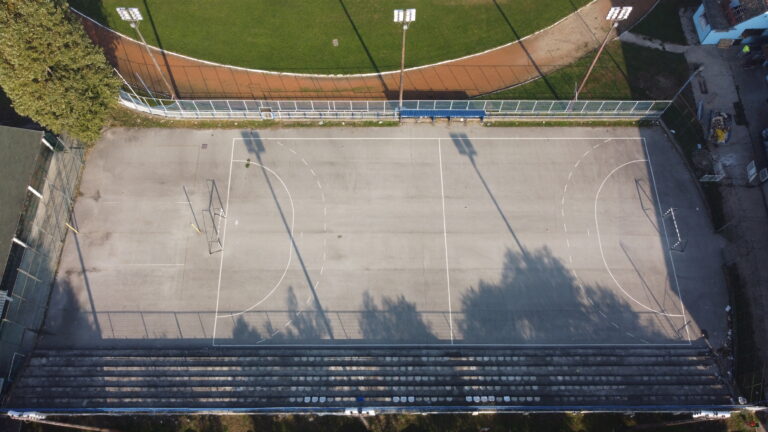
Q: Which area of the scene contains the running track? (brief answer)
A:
top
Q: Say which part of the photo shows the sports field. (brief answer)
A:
top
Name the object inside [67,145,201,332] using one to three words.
sports court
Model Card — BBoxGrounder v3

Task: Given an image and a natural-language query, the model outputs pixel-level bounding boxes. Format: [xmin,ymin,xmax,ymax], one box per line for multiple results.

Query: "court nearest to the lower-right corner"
[211,138,691,346]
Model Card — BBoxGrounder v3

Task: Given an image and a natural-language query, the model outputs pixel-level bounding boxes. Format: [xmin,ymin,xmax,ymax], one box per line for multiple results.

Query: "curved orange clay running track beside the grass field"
[1,0,662,110]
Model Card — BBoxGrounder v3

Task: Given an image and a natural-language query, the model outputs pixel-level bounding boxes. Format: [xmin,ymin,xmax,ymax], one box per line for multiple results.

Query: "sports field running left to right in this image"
[67,0,597,73]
